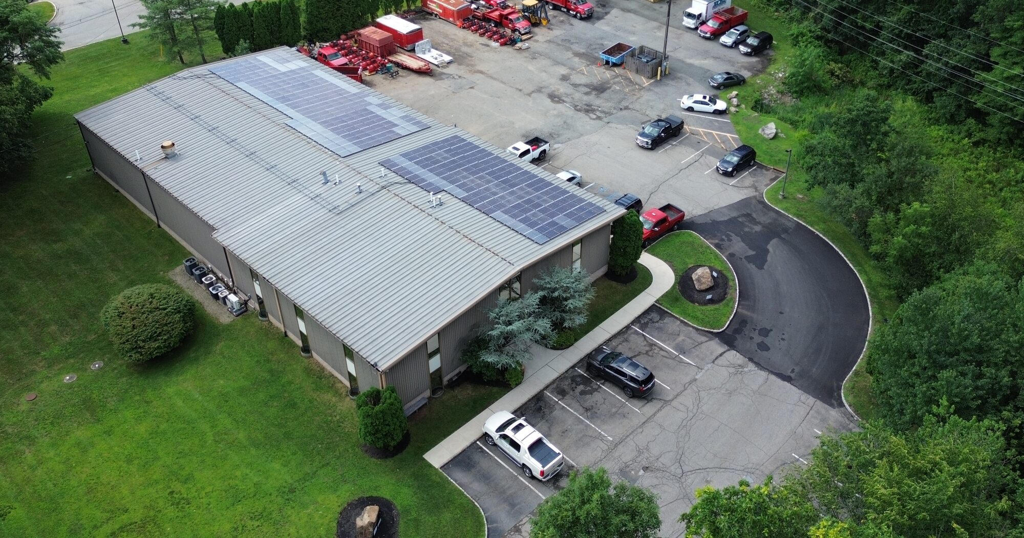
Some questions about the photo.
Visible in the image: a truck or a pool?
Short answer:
truck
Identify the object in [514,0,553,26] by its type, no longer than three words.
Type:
work vehicle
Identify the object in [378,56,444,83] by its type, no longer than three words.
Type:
trailer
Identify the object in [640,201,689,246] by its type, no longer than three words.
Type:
truck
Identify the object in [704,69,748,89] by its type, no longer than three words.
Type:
car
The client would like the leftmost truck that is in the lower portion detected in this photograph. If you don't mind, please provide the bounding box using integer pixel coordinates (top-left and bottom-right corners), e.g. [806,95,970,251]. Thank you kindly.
[480,408,569,488]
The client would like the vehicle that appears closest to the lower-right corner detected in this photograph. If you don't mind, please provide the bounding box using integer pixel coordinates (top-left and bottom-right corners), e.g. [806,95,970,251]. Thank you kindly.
[585,346,661,400]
